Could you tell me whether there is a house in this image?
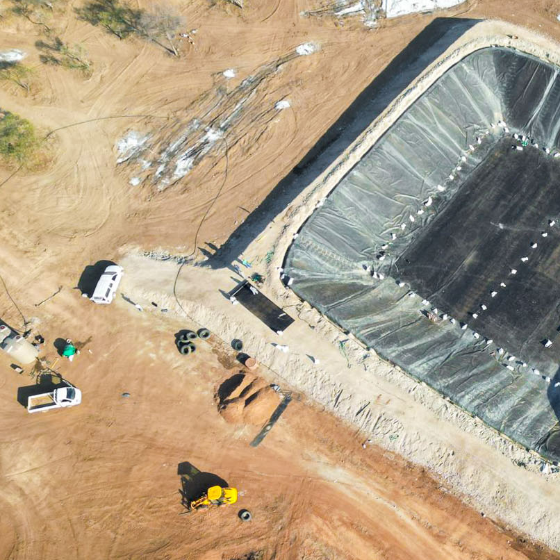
No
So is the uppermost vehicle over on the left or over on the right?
left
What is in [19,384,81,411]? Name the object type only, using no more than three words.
truck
